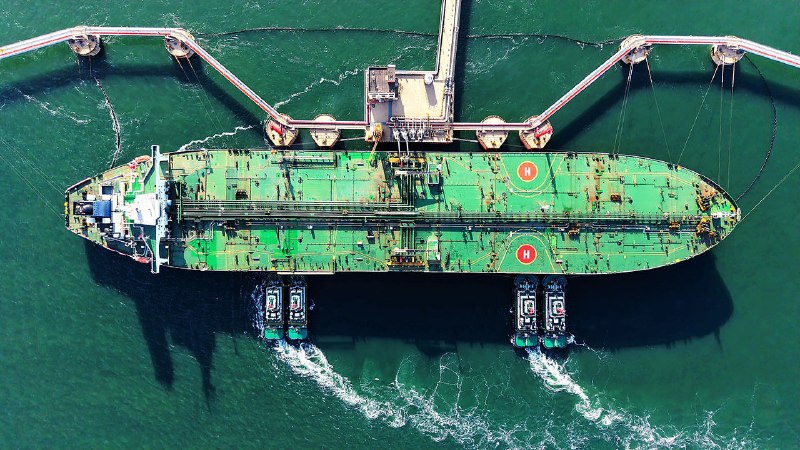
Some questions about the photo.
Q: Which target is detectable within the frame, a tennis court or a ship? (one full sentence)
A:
Looking from above, you can make out a ship.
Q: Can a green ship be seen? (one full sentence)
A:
Yes, a green ship appears in the view.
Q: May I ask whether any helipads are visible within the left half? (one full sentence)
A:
No, the scene shows no helipad within the left half.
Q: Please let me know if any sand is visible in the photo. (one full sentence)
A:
No, the picture contains no sand.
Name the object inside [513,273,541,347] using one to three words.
boat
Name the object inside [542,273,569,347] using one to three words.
boat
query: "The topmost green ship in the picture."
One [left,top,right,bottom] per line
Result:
[63,146,742,275]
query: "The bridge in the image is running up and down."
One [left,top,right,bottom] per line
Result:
[435,0,462,77]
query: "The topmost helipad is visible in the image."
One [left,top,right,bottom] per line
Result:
[517,162,538,181]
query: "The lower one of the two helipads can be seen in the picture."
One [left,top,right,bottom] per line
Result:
[516,244,537,264]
